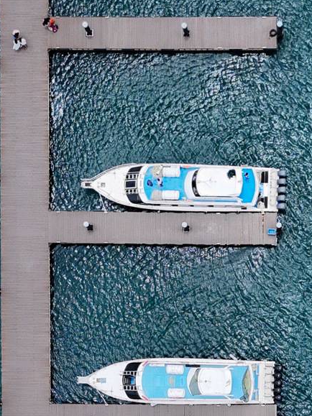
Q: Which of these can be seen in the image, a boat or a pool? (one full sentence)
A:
I can see a boat in this picture.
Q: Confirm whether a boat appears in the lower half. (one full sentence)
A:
Yes, looking in the lower half, one can make out a boat.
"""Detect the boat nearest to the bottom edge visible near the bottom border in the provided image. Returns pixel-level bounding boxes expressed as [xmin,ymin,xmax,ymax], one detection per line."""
[78,354,282,405]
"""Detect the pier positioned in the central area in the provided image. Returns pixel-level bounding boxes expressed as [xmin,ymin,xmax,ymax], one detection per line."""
[51,212,279,249]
